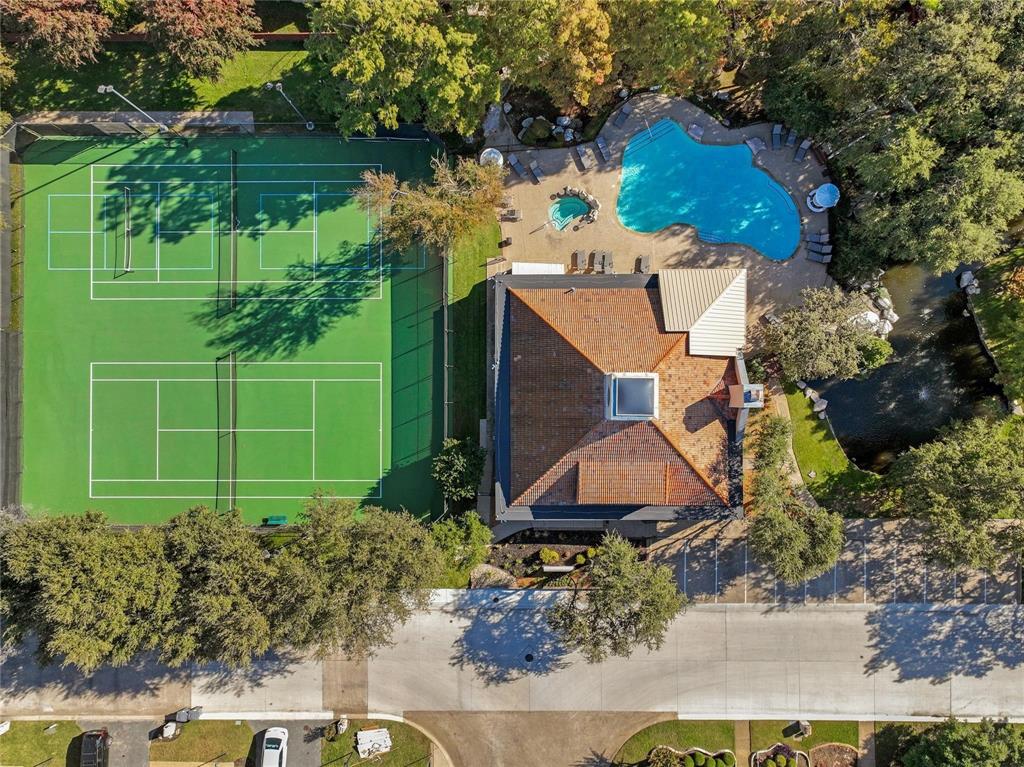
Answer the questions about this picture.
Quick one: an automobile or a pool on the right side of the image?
pool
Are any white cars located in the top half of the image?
No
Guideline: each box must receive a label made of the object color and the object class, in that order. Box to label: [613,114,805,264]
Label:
blue swimming pool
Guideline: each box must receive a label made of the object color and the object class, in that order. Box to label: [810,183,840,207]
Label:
blue umbrella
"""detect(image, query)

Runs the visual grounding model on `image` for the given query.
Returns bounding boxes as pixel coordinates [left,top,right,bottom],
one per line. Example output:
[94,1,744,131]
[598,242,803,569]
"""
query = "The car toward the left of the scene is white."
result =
[258,726,287,767]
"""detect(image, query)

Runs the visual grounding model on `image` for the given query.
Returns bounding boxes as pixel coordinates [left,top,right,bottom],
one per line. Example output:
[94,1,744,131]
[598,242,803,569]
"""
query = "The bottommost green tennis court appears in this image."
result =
[22,331,443,524]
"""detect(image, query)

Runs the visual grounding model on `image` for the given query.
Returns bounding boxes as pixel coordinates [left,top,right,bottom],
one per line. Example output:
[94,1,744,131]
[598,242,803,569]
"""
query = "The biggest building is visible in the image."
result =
[494,262,767,521]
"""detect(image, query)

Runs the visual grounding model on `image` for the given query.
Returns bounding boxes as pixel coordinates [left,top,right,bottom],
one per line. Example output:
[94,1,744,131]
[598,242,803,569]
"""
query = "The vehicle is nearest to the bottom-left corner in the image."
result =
[77,730,110,767]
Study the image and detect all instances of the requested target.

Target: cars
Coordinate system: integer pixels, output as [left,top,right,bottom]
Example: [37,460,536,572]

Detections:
[258,726,287,767]
[77,730,110,767]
